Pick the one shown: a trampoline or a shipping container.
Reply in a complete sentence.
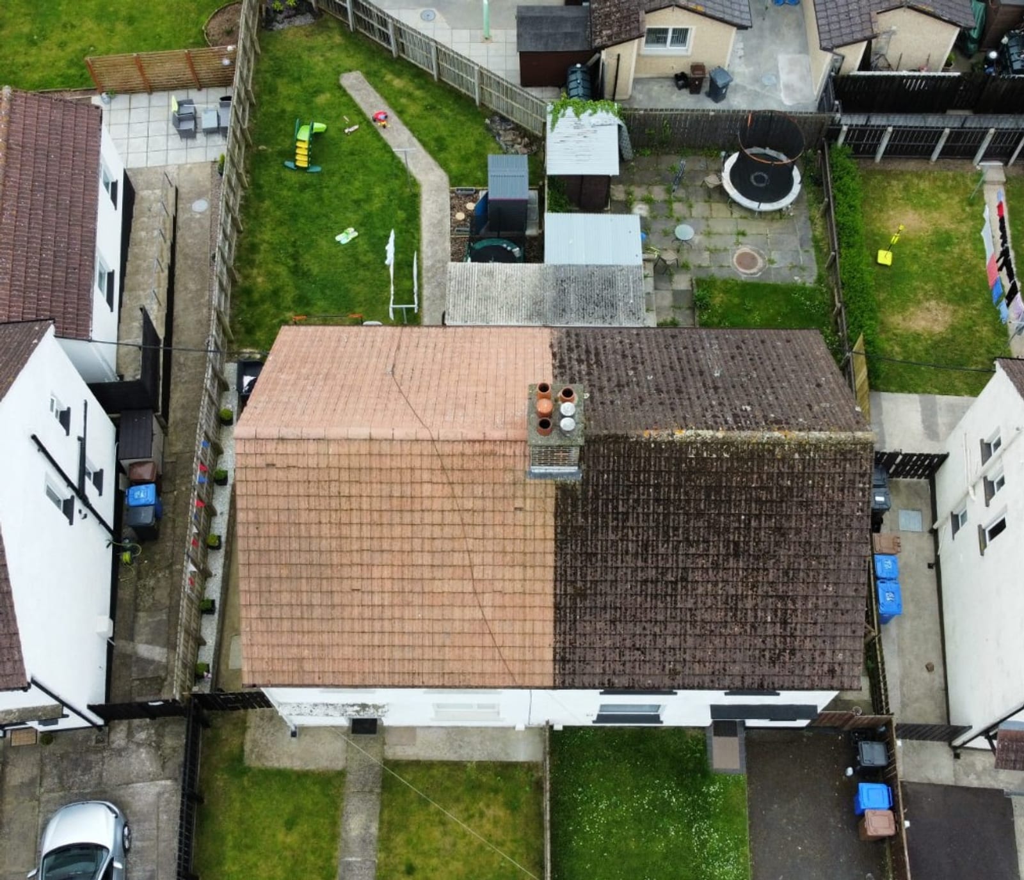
The one in the frame is a trampoline.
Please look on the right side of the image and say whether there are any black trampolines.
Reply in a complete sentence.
Yes, the scene does show a black trampoline on the right side of the image.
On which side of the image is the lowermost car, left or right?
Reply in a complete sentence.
The lowermost car sits on the left side.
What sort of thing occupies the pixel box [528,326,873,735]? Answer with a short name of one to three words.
house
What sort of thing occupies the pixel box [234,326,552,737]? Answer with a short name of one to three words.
house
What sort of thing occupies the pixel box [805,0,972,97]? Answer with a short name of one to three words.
building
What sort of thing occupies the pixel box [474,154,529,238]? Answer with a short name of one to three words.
shed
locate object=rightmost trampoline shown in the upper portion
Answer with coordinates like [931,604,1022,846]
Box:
[723,113,804,225]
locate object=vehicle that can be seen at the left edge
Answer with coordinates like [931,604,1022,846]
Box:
[24,796,129,880]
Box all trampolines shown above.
[471,229,524,264]
[723,113,804,225]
